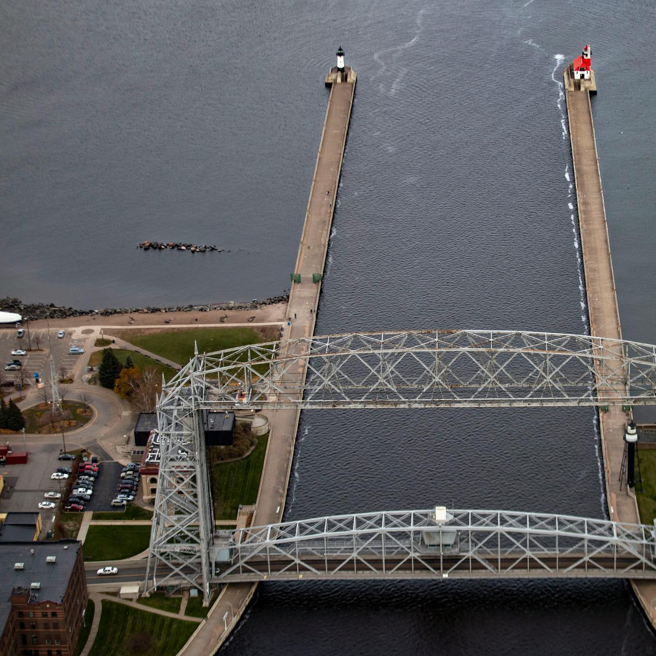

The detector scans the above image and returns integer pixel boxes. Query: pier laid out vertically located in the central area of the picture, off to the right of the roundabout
[177,61,358,656]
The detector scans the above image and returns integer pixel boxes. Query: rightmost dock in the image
[563,62,656,639]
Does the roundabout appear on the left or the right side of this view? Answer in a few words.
left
